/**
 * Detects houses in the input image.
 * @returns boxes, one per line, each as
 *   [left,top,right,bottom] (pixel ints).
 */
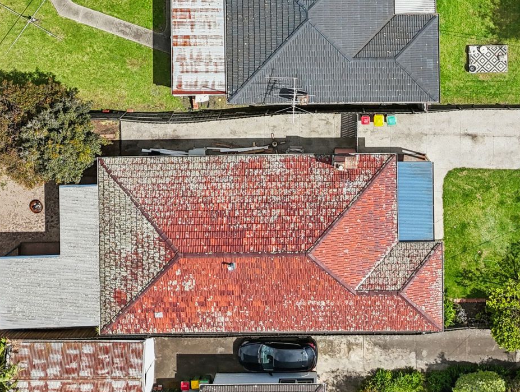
[222,0,441,105]
[96,146,445,337]
[198,371,328,392]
